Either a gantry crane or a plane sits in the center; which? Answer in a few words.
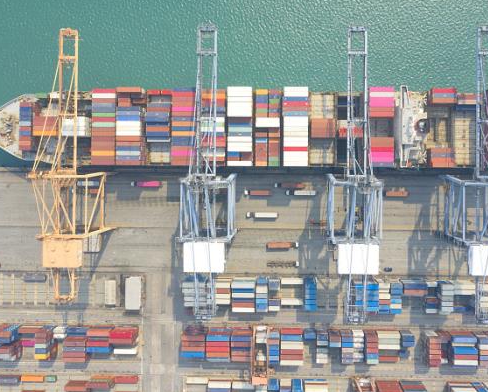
gantry crane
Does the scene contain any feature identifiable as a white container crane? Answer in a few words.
Yes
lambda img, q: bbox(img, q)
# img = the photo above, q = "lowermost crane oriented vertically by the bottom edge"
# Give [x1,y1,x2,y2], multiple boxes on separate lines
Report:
[251,321,277,386]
